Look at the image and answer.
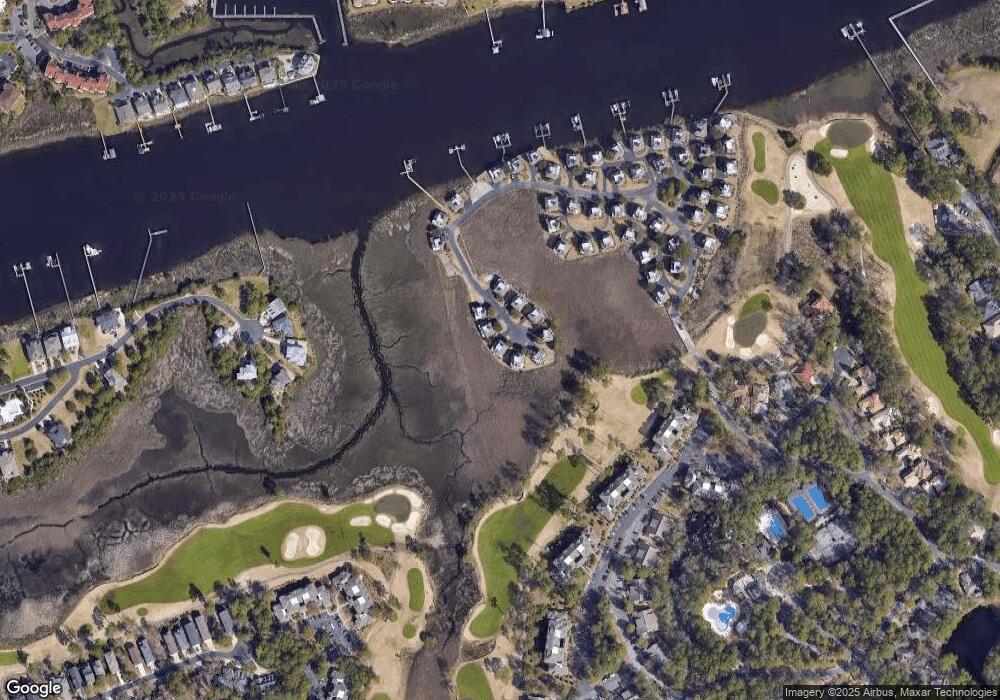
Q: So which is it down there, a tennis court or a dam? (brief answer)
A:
tennis court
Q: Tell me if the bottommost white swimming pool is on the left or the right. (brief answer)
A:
right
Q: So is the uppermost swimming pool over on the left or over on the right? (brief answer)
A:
right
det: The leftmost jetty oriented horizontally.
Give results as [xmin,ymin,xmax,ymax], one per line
[211,0,325,45]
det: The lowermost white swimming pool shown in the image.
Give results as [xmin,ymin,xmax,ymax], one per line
[703,601,739,635]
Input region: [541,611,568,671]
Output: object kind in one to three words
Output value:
building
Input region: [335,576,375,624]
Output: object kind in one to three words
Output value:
building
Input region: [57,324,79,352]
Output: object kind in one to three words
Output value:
house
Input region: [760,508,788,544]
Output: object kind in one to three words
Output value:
swimming pool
